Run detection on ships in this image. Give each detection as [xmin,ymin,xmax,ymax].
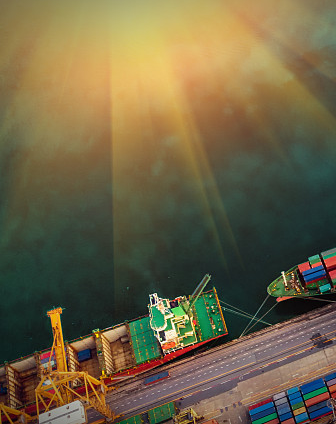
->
[0,263,228,420]
[266,253,336,299]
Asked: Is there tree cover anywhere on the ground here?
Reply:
No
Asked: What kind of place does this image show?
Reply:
port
